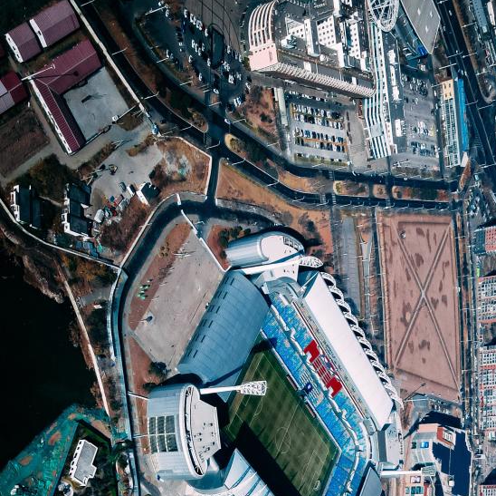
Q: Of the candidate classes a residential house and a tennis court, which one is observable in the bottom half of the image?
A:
residential house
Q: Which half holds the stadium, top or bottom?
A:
bottom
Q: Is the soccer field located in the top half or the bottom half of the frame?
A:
bottom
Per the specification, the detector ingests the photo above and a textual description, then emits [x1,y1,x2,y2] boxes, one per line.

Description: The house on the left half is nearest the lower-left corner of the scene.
[62,439,99,487]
